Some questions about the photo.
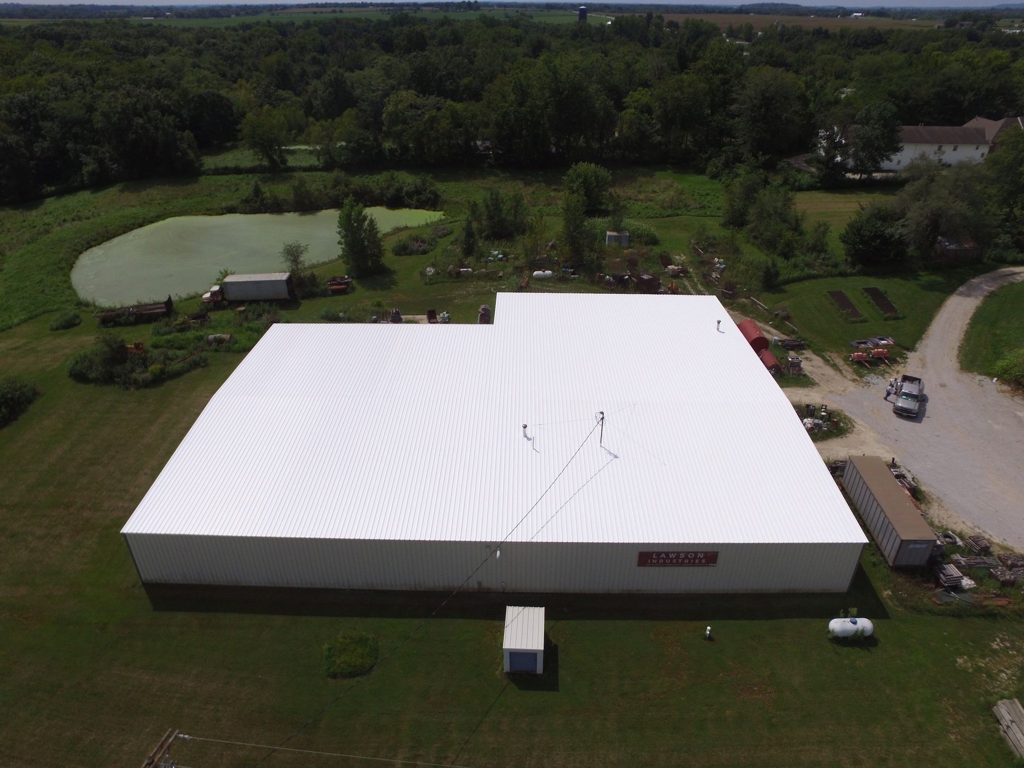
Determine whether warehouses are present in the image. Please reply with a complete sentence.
Yes, you can see a warehouse in this photo.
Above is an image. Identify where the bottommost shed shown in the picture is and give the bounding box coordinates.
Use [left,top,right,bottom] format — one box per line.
[504,607,545,674]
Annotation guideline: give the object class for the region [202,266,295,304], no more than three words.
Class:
truck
